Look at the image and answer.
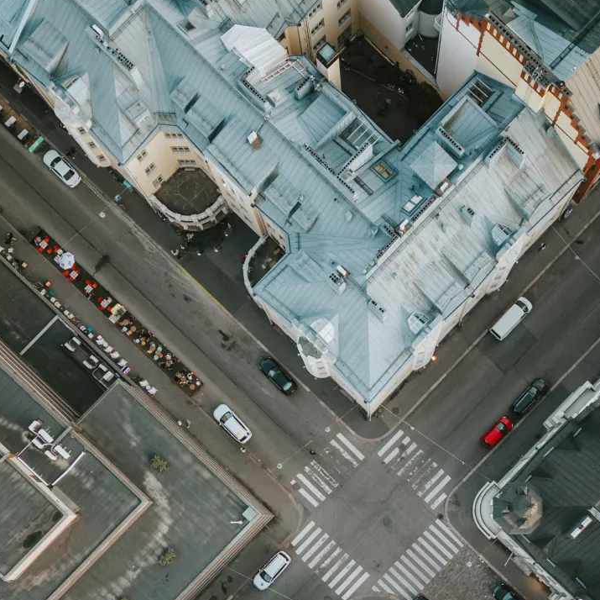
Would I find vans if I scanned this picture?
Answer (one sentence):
Yes, there is a van in the image.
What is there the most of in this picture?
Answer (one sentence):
For the most part, this view shows buildings.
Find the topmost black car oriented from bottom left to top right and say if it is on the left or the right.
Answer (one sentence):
You can find the topmost black car oriented from bottom left to top right on the right side of the picture.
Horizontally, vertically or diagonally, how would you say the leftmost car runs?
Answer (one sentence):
In this picture, the leftmost car lies diagonally.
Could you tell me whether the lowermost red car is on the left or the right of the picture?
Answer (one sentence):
You can find the lowermost red car on the right side of the picture.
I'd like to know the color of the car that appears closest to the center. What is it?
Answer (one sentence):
In this view, the car that appears closest to the center is black.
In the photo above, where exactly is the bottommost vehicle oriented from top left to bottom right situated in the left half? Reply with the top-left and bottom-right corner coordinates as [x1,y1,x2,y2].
[210,400,258,448]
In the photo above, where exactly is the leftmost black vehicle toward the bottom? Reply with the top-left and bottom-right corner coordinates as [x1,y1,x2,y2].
[256,352,302,397]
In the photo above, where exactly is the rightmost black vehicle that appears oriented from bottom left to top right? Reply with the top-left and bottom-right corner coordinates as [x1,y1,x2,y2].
[506,376,550,420]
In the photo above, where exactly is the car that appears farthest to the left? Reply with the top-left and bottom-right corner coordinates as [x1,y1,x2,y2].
[39,145,85,194]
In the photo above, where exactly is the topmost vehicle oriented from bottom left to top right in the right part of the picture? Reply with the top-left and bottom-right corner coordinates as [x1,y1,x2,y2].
[487,295,535,344]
